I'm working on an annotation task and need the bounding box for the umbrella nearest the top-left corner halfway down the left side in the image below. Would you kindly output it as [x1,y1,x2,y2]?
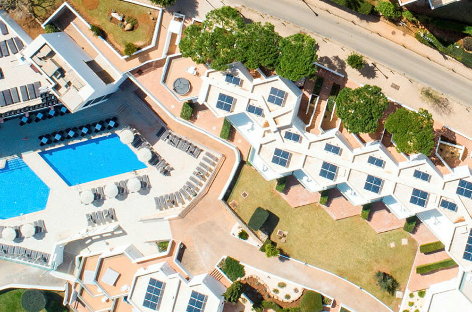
[118,128,136,145]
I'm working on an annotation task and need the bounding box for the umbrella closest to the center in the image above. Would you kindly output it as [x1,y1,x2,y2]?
[136,146,154,163]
